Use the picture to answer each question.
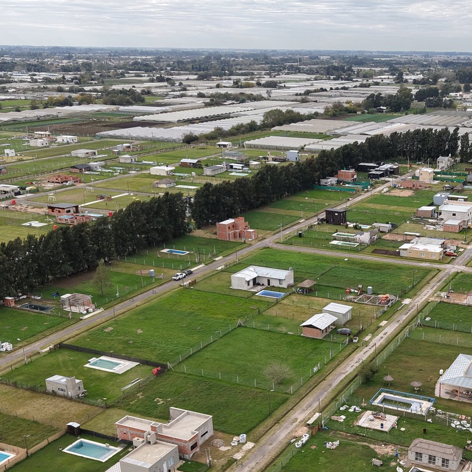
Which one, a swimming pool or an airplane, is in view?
swimming pool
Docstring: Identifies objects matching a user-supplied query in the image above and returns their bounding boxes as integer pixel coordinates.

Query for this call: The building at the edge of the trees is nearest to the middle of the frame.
[216,217,249,239]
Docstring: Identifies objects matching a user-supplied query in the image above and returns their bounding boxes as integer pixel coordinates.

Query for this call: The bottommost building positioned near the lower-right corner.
[405,435,466,472]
